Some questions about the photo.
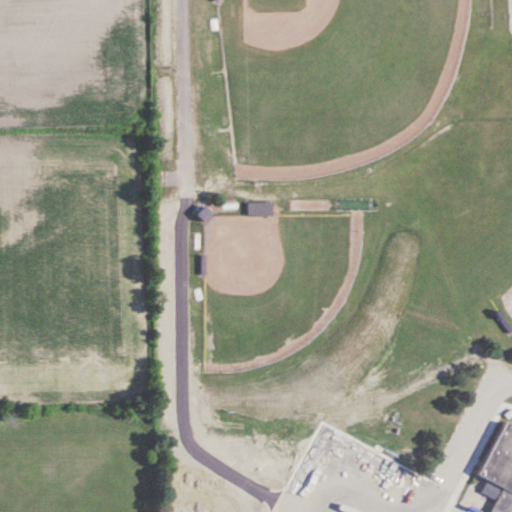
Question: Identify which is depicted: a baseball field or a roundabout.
baseball field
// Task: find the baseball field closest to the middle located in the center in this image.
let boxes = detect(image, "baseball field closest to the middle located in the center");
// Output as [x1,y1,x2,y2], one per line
[205,212,362,374]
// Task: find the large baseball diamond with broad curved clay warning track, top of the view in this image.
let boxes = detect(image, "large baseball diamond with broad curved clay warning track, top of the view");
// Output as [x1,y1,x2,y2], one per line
[224,0,471,182]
